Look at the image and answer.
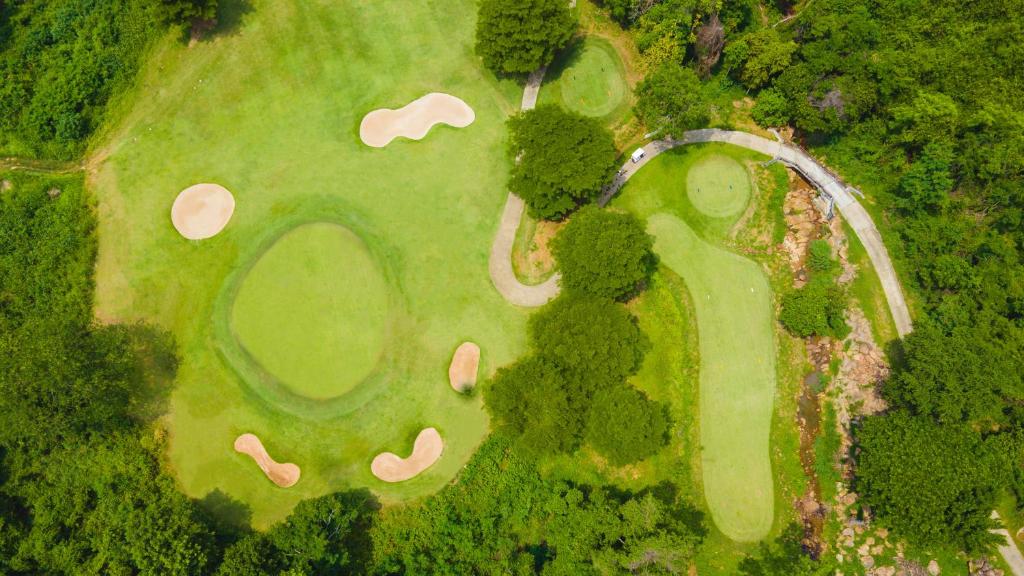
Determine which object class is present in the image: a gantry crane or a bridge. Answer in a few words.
bridge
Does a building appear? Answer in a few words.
No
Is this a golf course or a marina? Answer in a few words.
golf course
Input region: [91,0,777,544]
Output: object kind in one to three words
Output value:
golf course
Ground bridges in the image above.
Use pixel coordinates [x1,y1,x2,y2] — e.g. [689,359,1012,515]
[762,133,865,221]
